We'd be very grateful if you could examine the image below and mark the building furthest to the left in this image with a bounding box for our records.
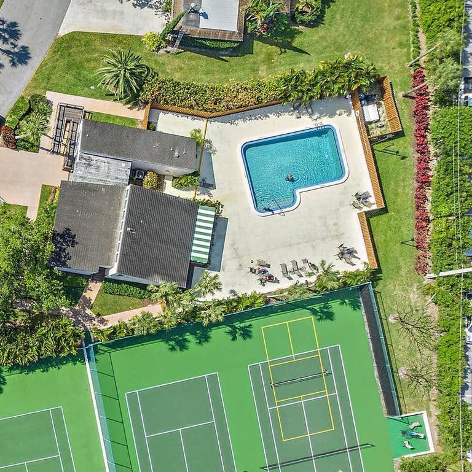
[51,119,199,288]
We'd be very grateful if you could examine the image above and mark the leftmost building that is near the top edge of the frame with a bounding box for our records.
[170,0,246,43]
